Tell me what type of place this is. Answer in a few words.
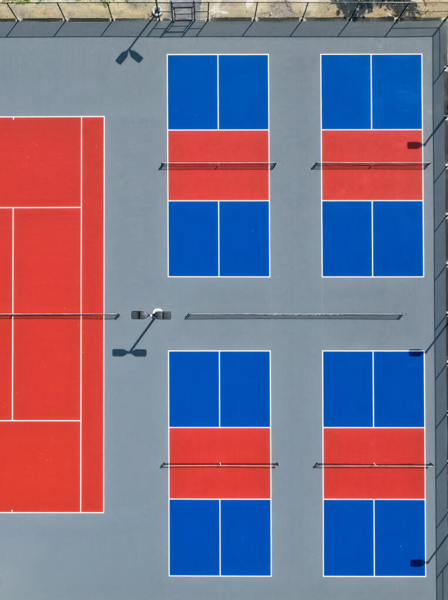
sports ground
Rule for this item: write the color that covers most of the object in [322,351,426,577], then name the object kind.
blue sports court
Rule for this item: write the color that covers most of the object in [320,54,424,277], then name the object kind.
blue sports court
